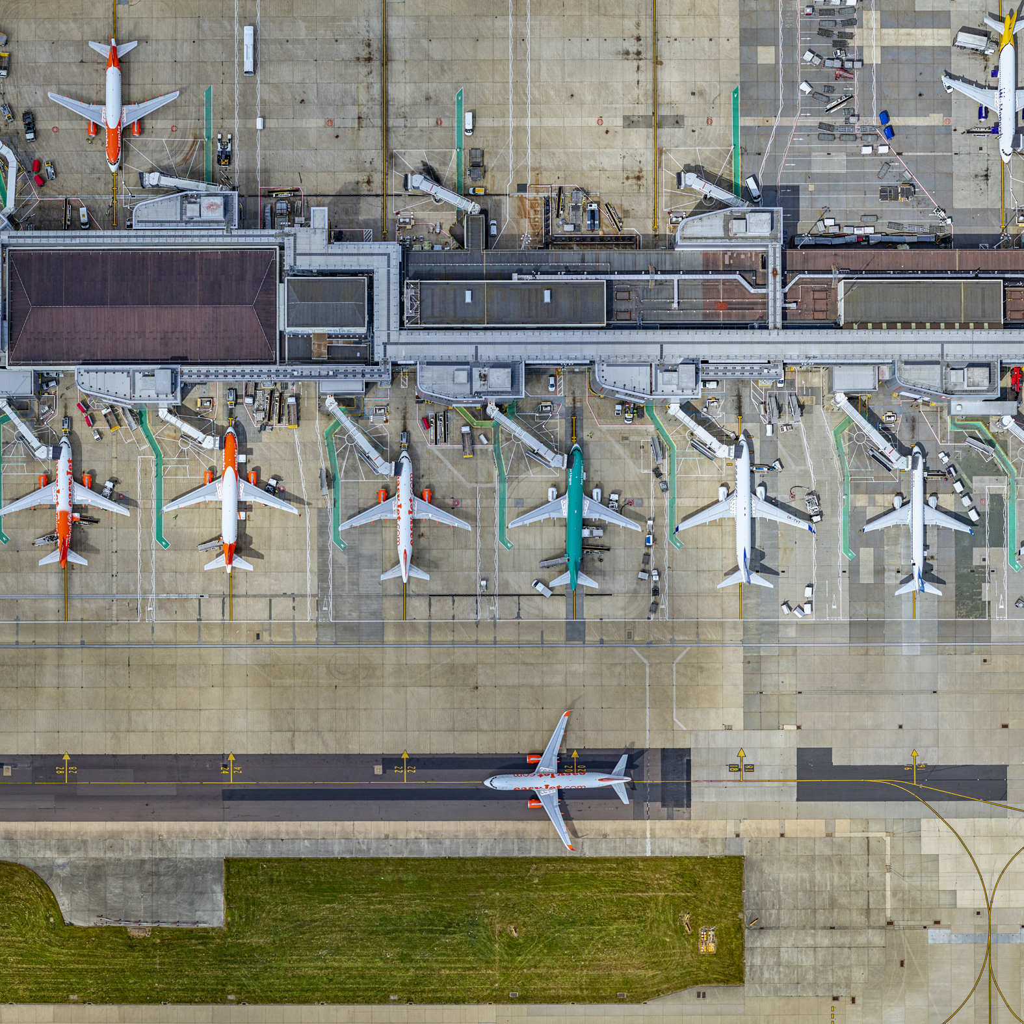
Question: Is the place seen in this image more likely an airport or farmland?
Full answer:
This image shows an airport.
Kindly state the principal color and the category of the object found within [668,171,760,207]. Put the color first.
white jet bridge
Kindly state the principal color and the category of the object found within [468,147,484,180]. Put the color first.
gray work vehicle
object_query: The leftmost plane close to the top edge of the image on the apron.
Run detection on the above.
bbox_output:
[45,35,180,172]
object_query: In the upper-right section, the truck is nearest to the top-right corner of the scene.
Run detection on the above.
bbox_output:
[953,31,999,52]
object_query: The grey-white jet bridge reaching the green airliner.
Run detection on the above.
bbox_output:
[484,401,579,470]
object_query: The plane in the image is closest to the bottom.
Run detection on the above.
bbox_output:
[484,714,632,856]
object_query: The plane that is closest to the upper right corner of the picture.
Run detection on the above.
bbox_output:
[941,12,1024,163]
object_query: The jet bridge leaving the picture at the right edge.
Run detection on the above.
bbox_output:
[997,414,1024,442]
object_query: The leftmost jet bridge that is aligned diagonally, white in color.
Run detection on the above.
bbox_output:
[0,396,63,462]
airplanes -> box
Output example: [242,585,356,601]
[337,451,472,583]
[0,436,131,569]
[863,470,976,596]
[674,433,811,588]
[509,444,644,591]
[163,426,298,574]
[941,12,1024,163]
[484,714,632,856]
[45,35,180,172]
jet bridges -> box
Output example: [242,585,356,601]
[831,392,925,471]
[155,405,230,452]
[668,171,760,207]
[666,402,746,460]
[484,401,579,470]
[397,173,481,214]
[0,396,63,462]
[997,414,1024,442]
[132,170,232,192]
[323,394,408,477]
[0,140,19,222]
